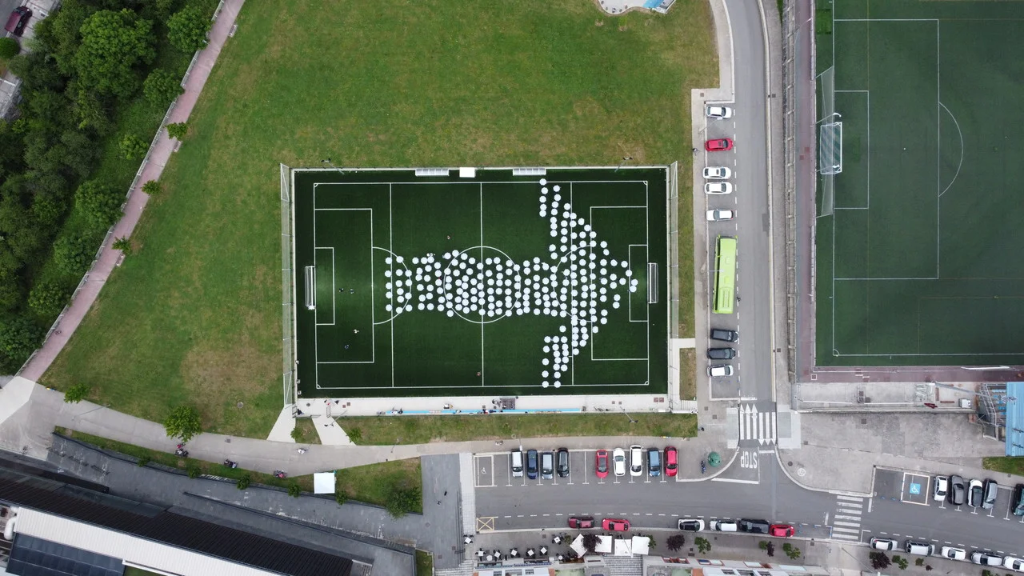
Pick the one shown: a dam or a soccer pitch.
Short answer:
soccer pitch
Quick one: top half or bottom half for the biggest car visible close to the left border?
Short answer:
top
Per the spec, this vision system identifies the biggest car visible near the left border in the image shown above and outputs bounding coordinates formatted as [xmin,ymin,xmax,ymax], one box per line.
[3,6,33,36]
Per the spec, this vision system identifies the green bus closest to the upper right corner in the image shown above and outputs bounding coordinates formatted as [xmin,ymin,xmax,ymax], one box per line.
[712,234,738,313]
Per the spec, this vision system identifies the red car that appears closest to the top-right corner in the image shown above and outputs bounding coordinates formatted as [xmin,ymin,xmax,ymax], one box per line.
[704,138,733,152]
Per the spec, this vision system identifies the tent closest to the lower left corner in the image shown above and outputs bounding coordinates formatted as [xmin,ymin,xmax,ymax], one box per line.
[314,469,338,493]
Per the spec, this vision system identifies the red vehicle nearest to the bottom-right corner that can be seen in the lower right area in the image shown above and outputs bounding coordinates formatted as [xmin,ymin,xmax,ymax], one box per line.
[769,522,795,537]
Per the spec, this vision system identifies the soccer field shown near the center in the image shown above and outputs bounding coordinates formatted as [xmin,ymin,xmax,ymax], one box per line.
[291,166,671,399]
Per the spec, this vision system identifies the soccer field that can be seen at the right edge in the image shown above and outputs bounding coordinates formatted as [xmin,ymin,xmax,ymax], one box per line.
[816,0,1024,367]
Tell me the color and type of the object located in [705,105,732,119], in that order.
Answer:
white car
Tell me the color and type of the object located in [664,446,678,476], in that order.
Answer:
red car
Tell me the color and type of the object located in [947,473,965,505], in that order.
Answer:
gray car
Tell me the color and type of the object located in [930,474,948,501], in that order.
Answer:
white car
